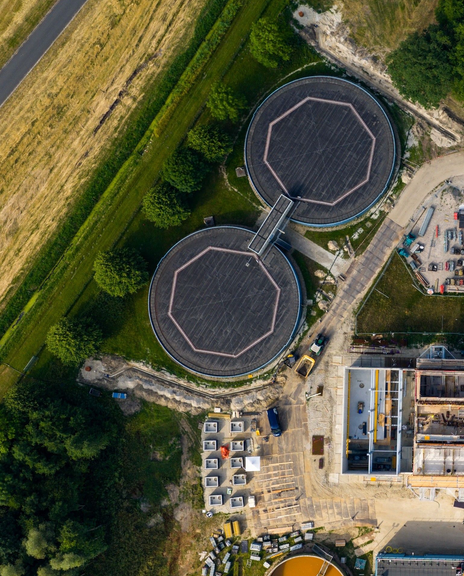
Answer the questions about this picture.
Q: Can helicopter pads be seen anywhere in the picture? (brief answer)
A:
No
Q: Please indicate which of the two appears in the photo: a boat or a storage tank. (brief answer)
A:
storage tank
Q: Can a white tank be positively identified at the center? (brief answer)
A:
No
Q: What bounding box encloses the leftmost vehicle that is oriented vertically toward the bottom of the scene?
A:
[266,406,283,436]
